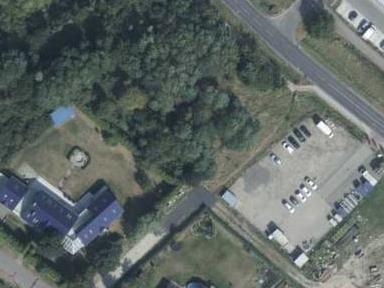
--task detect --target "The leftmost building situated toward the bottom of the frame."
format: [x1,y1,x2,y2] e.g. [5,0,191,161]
[0,170,124,255]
